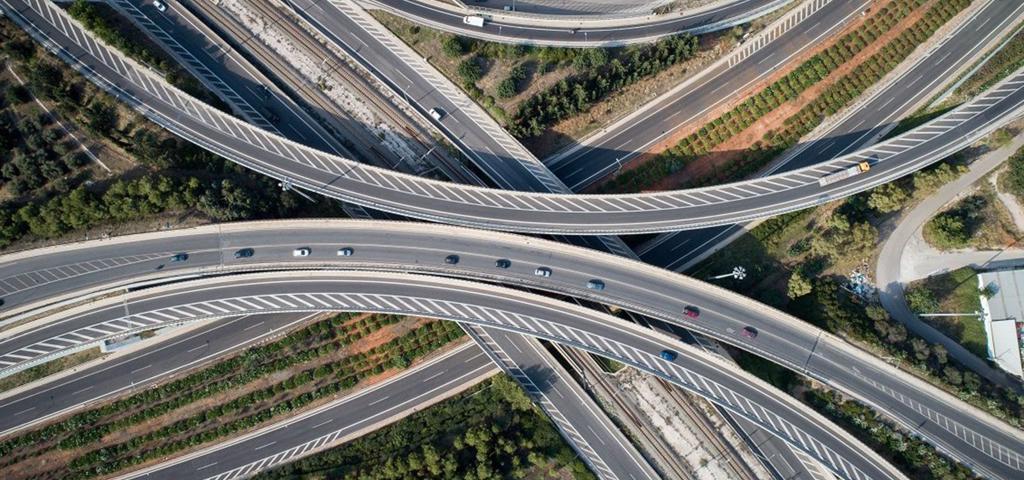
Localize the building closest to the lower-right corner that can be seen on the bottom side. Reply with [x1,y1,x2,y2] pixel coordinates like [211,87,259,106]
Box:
[991,318,1022,377]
